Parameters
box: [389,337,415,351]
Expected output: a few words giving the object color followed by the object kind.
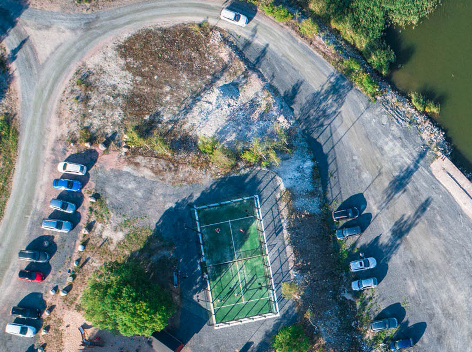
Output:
blue vehicle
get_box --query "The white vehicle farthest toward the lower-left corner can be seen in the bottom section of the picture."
[1,323,38,339]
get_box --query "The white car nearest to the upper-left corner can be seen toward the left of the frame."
[55,160,89,176]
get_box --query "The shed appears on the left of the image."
[148,327,185,352]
